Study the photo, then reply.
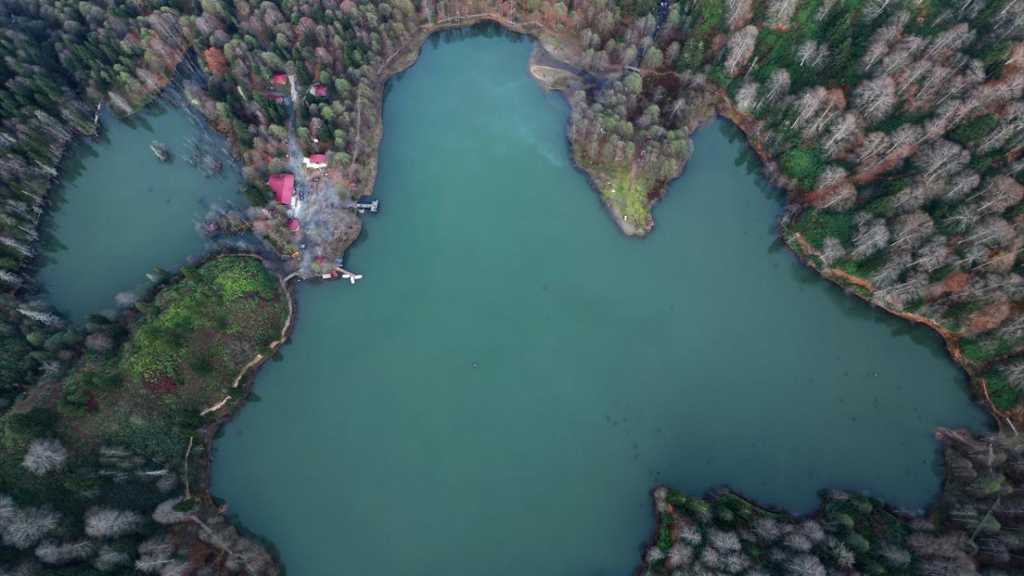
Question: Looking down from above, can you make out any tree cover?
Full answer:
Yes, the picture does contain tree cover.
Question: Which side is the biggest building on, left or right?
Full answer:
The biggest building sits on the left side.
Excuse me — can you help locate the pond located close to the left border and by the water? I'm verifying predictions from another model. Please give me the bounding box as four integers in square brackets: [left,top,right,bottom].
[14,59,287,324]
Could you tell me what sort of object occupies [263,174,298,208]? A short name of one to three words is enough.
building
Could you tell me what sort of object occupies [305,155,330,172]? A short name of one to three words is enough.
building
